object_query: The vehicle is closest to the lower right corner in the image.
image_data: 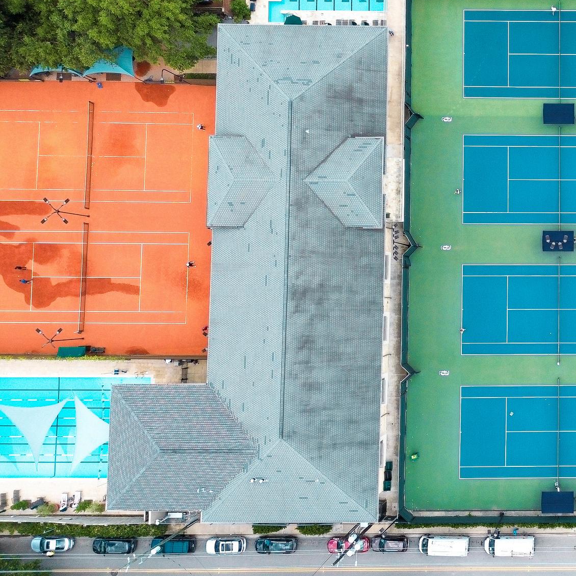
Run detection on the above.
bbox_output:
[485,534,537,560]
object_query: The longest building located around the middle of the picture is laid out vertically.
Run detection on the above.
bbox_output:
[197,24,397,523]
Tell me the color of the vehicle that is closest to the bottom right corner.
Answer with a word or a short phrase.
white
